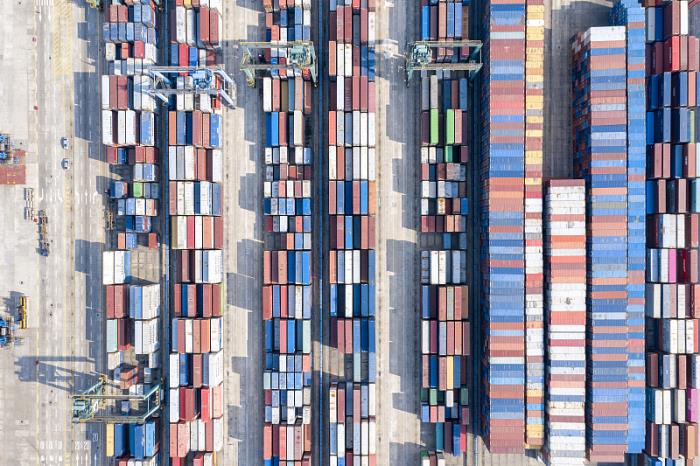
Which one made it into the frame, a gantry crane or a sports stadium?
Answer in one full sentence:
There is a gantry crane in the scene.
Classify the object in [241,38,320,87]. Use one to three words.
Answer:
container crane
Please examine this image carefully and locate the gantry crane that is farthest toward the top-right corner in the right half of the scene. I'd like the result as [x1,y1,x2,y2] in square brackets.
[407,40,488,87]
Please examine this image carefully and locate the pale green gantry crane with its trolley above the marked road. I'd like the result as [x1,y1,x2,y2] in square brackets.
[73,376,166,423]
